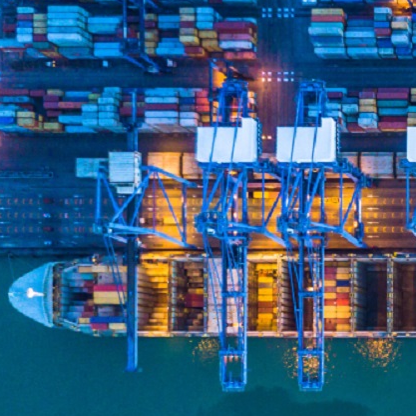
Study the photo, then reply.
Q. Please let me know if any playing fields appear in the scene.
No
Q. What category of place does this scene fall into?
port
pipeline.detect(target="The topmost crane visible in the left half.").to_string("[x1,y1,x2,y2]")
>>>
[118,0,164,70]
